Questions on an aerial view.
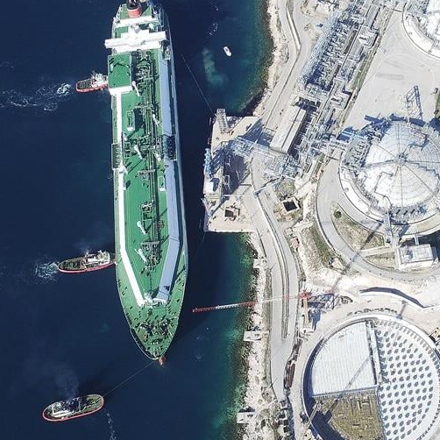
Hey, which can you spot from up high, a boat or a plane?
boat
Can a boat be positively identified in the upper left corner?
Yes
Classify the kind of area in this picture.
industrial area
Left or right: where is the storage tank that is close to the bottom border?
right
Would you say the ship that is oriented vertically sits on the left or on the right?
left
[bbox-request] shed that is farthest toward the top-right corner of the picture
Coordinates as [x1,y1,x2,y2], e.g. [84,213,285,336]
[270,104,307,159]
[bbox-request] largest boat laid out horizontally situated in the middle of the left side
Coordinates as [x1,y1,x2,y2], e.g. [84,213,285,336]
[58,253,115,275]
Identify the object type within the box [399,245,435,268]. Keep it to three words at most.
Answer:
building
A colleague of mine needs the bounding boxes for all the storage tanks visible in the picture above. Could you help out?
[401,0,440,70]
[338,92,440,239]
[301,304,440,440]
